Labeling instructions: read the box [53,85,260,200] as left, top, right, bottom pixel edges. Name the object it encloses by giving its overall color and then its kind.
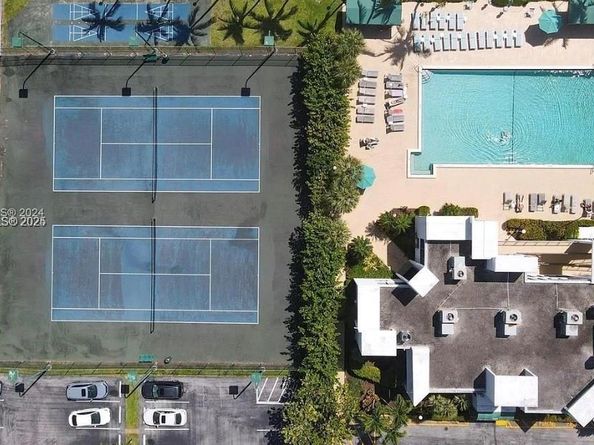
blue tennis court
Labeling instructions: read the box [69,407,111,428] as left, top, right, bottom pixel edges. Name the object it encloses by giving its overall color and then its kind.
white car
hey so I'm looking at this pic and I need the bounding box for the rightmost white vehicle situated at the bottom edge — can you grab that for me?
[144,407,187,428]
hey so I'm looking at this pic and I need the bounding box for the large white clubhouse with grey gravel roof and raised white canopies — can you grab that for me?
[354,217,594,427]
